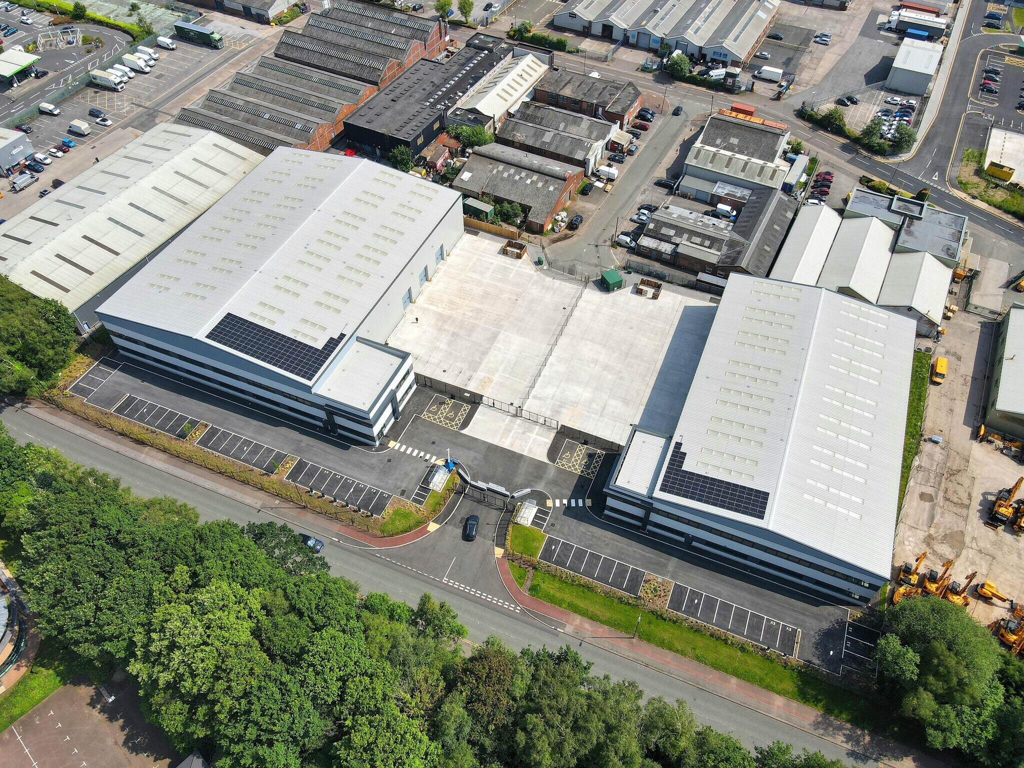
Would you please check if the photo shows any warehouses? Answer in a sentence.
Yes, a warehouse is visible in the scene.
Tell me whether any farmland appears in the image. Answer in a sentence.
No, the scene doesn't show any farmland.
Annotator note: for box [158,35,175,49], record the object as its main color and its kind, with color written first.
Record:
white vehicle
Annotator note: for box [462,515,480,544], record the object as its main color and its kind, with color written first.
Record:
black car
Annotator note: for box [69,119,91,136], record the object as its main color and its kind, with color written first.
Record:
white vehicle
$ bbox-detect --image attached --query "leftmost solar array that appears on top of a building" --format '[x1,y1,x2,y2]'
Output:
[205,312,345,379]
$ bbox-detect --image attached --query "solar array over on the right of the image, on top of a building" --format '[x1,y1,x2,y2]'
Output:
[660,441,773,519]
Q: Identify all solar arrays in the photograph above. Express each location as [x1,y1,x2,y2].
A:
[205,312,345,379]
[660,441,773,519]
